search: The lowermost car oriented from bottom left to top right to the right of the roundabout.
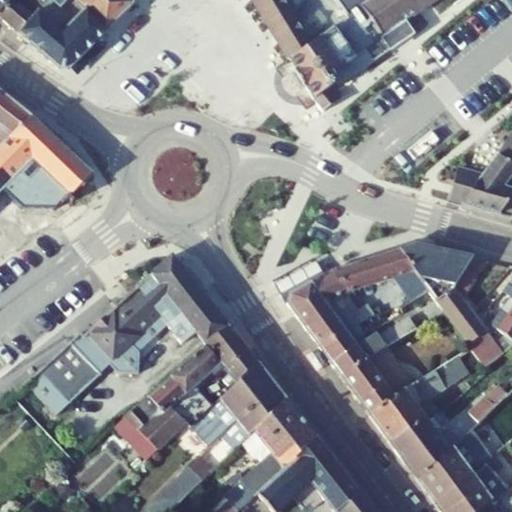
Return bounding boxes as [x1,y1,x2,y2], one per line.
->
[328,230,347,247]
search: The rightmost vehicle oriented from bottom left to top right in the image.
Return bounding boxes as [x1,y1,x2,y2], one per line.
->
[410,130,440,157]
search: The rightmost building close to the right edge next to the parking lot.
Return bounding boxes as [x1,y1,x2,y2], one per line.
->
[450,153,512,216]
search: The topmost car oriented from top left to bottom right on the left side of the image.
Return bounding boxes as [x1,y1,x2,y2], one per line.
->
[158,52,176,70]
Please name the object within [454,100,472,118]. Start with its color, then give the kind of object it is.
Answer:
white car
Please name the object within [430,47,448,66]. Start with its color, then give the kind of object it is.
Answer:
white car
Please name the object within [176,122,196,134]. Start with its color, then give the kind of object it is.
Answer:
white vehicle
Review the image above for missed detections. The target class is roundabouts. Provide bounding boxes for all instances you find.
[117,112,240,236]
